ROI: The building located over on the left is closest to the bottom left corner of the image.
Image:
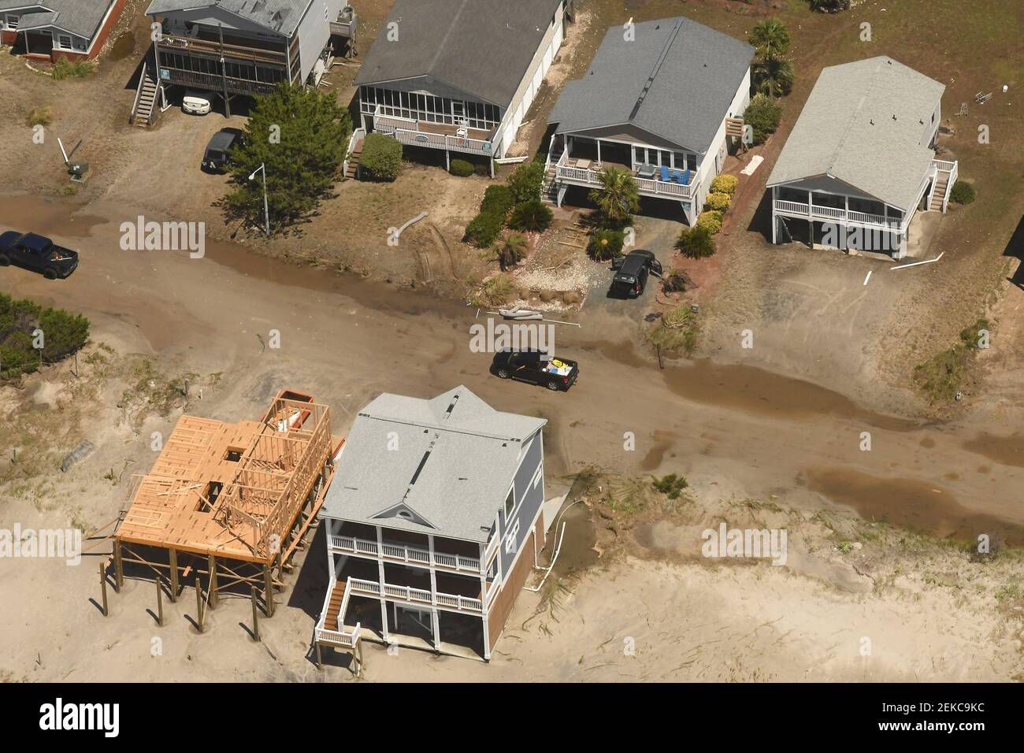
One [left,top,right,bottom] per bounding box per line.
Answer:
[111,397,335,618]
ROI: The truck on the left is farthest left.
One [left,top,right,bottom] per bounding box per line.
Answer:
[0,231,80,276]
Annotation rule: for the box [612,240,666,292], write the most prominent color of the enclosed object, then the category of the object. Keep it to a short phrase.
black car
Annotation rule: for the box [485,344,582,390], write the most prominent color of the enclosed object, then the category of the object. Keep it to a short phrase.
black truck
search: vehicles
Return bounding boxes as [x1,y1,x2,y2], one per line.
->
[485,344,582,390]
[612,240,666,292]
[204,123,246,166]
[180,89,218,112]
[0,231,80,276]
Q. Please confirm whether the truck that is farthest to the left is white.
No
